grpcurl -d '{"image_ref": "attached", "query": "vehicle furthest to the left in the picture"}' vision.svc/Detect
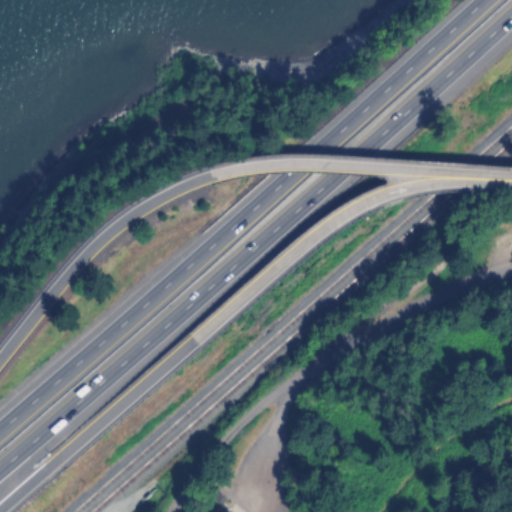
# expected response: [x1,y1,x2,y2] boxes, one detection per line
[50,412,74,435]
